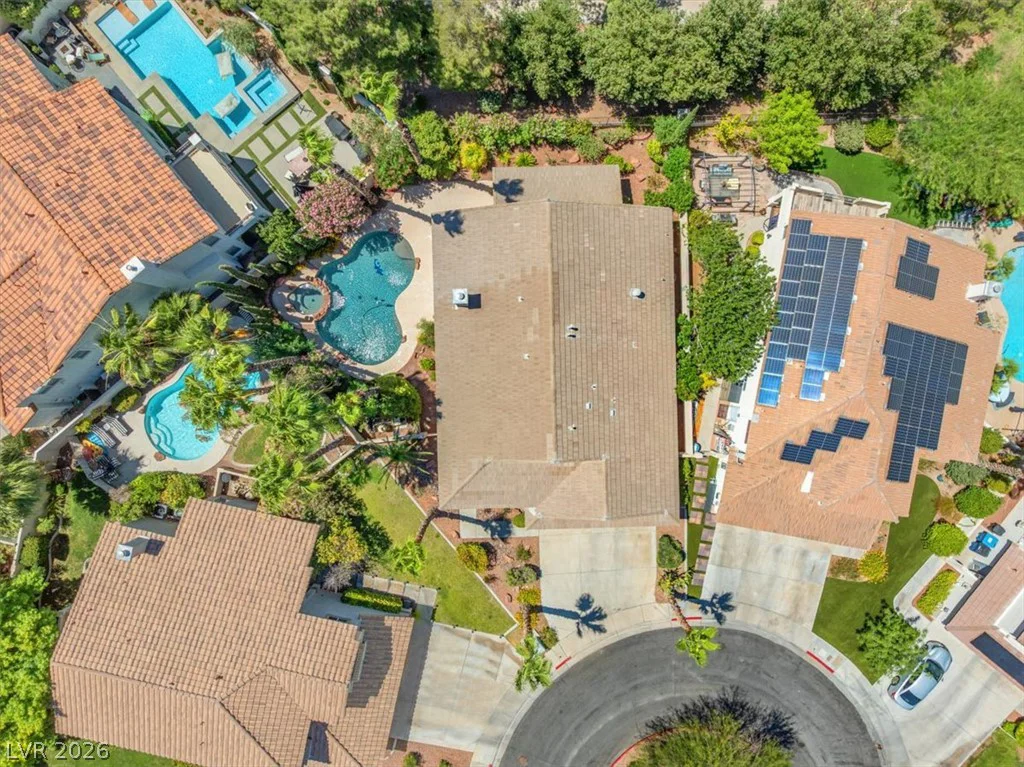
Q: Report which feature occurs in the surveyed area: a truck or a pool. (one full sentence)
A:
Looking from above, you can make out a pool.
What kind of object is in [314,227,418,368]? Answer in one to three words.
swimming pool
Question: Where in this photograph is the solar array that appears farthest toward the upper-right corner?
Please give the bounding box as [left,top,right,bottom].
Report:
[897,237,941,299]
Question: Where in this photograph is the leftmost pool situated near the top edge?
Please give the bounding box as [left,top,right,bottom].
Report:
[93,0,258,141]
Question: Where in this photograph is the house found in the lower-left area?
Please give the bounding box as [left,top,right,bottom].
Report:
[48,496,413,767]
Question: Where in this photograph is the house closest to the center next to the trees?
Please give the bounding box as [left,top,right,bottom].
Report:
[432,164,681,530]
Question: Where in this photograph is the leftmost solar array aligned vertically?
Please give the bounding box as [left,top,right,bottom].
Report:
[757,218,868,406]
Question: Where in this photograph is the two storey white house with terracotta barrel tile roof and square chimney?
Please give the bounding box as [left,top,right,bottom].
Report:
[0,33,272,452]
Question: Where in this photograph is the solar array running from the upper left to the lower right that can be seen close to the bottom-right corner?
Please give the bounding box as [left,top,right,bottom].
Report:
[971,634,1024,689]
